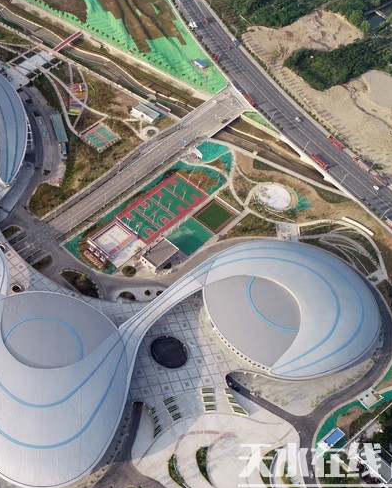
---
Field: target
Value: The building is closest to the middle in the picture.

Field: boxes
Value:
[141,238,180,272]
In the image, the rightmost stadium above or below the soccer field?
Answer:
below it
